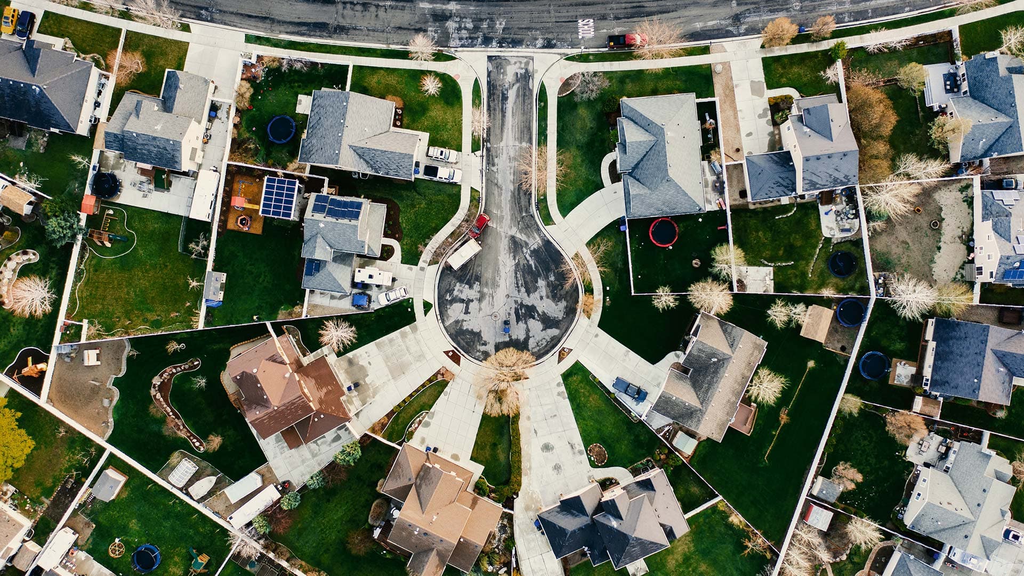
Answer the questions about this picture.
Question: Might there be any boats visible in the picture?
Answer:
Yes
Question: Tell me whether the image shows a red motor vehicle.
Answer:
Yes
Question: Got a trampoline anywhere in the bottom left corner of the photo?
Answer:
Yes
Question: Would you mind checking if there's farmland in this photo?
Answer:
No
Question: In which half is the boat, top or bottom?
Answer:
bottom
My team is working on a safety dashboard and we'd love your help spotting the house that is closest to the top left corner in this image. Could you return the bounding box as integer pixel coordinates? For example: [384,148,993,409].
[0,38,102,134]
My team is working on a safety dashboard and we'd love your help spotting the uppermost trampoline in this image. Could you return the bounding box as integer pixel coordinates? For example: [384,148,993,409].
[267,115,296,144]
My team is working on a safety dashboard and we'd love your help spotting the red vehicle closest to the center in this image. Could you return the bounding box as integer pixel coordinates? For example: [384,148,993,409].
[469,212,491,240]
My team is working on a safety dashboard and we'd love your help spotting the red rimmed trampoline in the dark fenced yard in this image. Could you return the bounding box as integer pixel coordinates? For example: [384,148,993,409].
[648,217,679,247]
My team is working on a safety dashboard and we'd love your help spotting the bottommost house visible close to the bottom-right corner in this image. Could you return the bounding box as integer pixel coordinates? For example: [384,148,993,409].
[879,548,948,576]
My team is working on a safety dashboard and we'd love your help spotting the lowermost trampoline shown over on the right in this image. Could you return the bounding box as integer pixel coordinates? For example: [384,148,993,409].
[858,351,889,381]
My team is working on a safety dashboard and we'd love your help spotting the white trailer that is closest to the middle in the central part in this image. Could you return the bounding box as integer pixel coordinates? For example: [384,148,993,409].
[445,237,486,272]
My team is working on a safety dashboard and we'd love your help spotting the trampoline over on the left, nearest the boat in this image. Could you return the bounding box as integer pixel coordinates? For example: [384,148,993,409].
[126,543,162,576]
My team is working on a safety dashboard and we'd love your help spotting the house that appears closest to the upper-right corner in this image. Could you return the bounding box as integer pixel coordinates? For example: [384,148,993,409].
[934,53,1024,164]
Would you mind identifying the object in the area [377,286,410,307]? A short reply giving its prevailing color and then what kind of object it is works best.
white car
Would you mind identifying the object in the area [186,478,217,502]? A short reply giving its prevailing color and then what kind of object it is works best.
white boat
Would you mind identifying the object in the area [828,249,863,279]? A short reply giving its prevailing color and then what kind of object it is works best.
black trampoline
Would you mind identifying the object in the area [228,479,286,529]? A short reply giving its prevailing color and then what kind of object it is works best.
white trailer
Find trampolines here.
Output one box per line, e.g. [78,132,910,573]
[858,351,889,381]
[834,298,866,328]
[648,217,679,247]
[84,168,123,200]
[126,543,162,576]
[267,115,296,144]
[828,249,863,279]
